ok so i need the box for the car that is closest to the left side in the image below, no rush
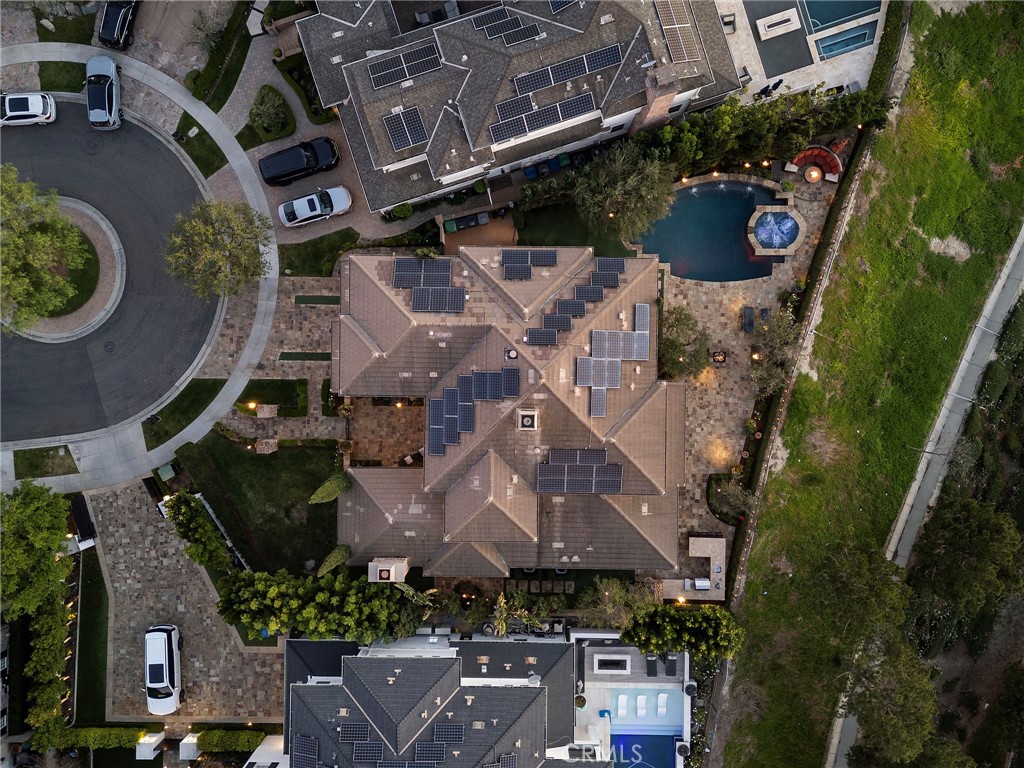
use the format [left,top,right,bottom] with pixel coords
[0,90,53,124]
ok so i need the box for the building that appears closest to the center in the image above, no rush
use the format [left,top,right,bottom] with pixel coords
[330,246,687,582]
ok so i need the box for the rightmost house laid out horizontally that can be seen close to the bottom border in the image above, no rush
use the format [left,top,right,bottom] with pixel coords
[284,626,610,768]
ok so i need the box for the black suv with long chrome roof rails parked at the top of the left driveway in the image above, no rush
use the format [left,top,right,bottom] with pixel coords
[92,0,136,45]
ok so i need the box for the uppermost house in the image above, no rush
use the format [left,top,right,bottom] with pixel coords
[296,0,742,214]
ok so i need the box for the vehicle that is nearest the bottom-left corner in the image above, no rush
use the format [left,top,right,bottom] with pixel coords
[138,629,182,717]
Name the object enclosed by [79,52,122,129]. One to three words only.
car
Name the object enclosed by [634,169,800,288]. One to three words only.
swimming pool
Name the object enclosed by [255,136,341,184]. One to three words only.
car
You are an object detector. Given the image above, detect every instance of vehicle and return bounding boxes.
[92,0,136,45]
[138,629,182,717]
[0,90,53,124]
[275,183,354,227]
[79,52,122,129]
[255,136,341,184]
